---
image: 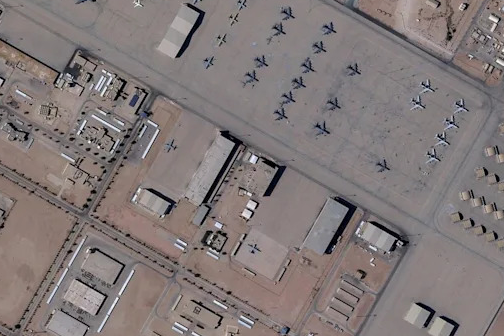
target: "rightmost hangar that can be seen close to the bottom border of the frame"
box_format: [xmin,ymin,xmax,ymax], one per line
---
[429,315,455,336]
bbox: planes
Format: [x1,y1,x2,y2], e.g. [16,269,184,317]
[253,53,266,66]
[281,90,293,102]
[274,106,287,118]
[314,121,327,134]
[203,55,213,68]
[311,39,324,52]
[425,149,438,161]
[375,159,388,172]
[244,69,257,82]
[346,62,359,74]
[165,140,174,152]
[290,75,304,88]
[272,22,285,34]
[229,13,238,25]
[453,99,467,112]
[301,57,313,69]
[420,80,433,92]
[216,34,226,46]
[132,0,143,8]
[249,244,260,253]
[435,132,448,145]
[443,115,456,128]
[326,97,339,109]
[409,96,422,108]
[280,6,293,18]
[321,21,334,34]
